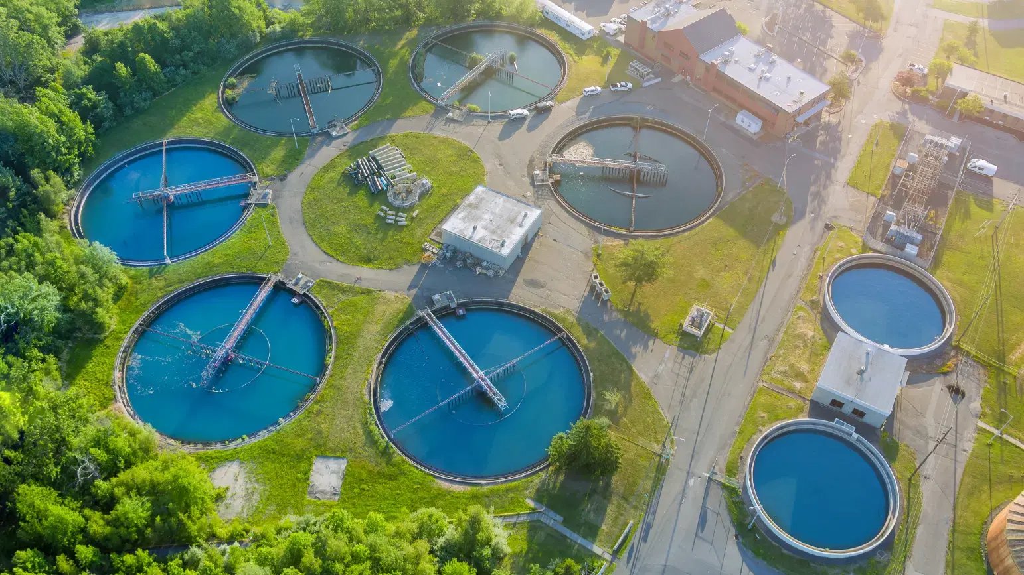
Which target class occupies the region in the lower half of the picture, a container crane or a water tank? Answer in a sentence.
The one visible in the lower half of the picture is a water tank.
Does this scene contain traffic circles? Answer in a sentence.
Yes, this view includes a traffic circle.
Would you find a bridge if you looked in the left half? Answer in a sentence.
Yes, looking in the left half, one can make out a bridge.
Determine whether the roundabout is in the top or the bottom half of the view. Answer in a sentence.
The roundabout is in the top half of the image.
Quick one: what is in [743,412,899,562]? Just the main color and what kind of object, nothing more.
blue water tank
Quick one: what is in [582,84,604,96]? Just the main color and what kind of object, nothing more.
white vehicle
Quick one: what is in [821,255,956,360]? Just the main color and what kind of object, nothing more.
blue water tank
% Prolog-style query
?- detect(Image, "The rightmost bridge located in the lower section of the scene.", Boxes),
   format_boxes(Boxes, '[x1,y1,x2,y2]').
[417,303,509,412]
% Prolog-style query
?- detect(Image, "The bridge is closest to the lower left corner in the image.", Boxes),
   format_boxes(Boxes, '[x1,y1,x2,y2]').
[197,269,284,390]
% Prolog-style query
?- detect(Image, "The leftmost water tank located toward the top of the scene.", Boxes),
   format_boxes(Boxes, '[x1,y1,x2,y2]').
[66,135,273,268]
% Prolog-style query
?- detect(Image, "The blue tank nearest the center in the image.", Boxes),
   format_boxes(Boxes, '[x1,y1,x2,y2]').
[368,289,595,487]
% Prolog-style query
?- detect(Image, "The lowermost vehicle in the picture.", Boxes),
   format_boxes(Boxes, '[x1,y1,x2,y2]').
[969,158,1001,175]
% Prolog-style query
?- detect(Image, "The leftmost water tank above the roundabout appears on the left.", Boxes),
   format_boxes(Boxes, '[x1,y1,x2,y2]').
[216,36,384,139]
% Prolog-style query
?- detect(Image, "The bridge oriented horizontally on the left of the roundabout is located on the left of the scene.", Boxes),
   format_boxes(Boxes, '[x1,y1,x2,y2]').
[132,171,262,204]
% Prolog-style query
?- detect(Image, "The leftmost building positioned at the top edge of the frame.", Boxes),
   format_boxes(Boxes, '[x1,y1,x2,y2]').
[621,0,832,139]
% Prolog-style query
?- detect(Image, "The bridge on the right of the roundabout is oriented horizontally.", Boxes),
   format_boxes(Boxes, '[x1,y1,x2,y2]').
[545,151,667,176]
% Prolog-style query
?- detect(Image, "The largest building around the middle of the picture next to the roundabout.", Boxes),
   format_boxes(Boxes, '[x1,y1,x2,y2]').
[434,184,542,272]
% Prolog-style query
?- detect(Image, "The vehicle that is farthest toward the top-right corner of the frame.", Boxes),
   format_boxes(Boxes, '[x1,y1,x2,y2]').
[907,62,931,74]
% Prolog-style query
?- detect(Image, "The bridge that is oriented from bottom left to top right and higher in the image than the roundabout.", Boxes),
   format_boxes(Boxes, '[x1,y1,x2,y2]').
[435,46,505,107]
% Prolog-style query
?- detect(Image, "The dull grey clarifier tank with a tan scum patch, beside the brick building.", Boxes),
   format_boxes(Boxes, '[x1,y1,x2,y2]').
[534,113,729,237]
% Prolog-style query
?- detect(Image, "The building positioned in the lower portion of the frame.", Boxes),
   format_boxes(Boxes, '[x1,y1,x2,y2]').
[810,331,910,430]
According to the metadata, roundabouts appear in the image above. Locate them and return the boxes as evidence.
[302,131,486,269]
